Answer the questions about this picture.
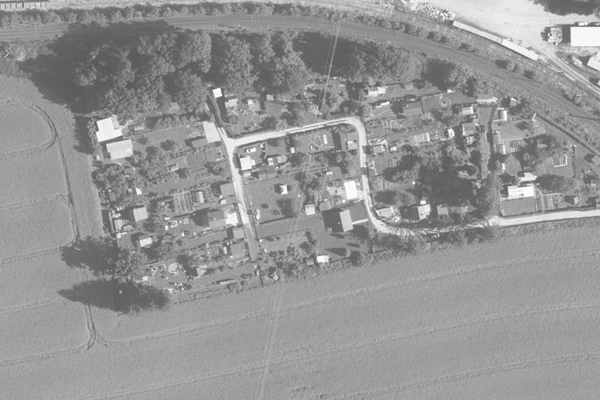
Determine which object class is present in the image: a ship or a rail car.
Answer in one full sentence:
The one in the frame is a rail car.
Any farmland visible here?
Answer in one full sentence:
Yes, some farmland is visible.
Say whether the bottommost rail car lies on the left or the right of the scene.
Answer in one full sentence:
The bottommost rail car is on the right side of the image.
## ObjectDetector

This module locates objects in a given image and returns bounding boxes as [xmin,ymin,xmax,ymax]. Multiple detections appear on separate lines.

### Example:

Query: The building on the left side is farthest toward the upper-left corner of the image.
[96,117,122,142]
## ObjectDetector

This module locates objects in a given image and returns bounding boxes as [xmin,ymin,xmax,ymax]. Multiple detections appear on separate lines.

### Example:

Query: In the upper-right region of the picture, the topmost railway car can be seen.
[454,19,502,46]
